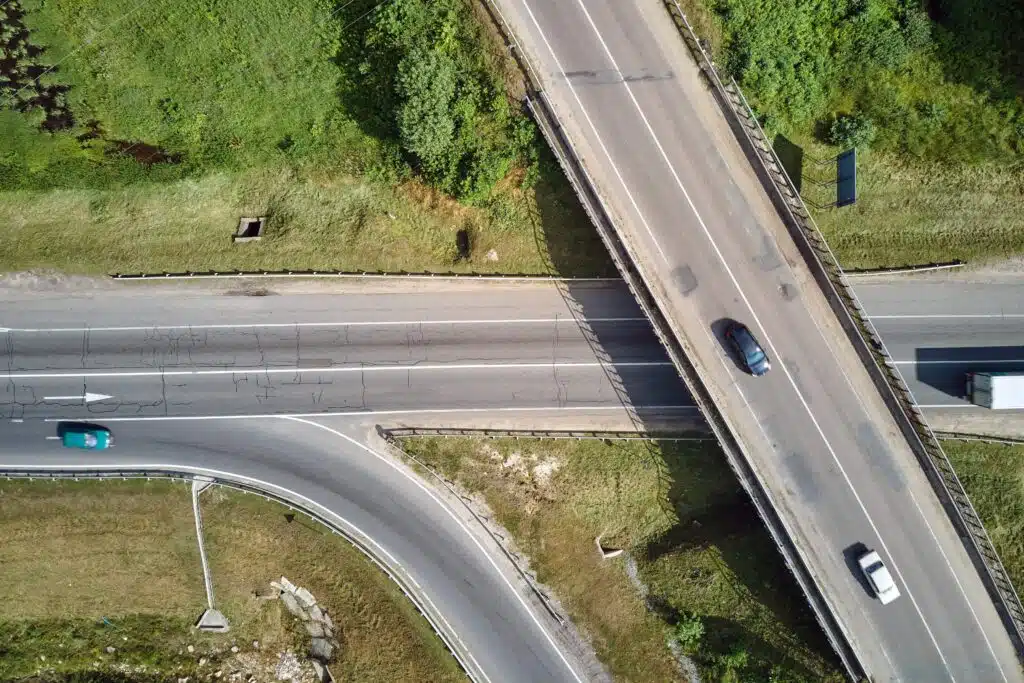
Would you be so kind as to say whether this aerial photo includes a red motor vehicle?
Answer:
No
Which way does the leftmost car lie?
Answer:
from left to right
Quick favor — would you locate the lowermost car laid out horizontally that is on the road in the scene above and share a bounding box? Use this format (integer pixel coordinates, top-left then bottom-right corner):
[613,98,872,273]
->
[64,429,116,451]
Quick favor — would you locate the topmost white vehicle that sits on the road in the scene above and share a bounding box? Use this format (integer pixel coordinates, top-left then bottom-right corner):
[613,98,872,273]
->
[960,372,1024,409]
